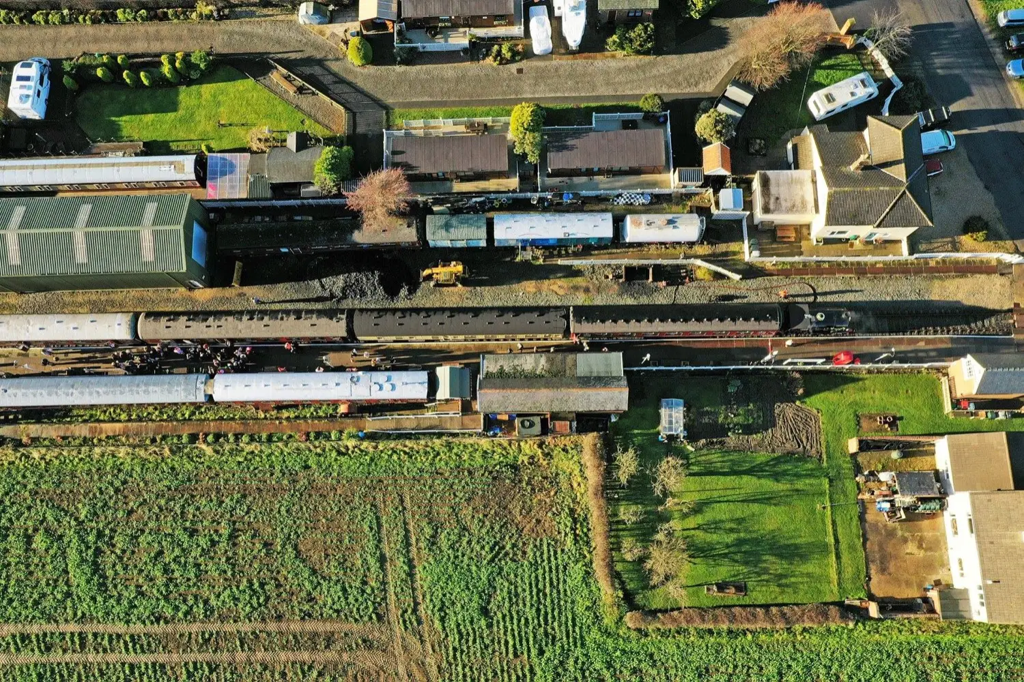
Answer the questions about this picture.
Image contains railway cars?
Yes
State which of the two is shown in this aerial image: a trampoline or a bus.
bus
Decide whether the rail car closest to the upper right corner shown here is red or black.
black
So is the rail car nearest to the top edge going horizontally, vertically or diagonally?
horizontally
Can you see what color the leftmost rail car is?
white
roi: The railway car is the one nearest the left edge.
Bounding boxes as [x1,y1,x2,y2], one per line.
[0,312,146,348]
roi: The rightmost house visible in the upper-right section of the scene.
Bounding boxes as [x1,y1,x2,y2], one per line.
[751,114,934,241]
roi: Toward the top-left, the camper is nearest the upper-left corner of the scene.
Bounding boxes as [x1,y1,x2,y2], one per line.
[9,59,53,118]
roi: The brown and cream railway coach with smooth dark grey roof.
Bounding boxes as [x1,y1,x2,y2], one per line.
[350,306,570,343]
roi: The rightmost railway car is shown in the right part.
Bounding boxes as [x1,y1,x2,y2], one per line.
[780,302,865,334]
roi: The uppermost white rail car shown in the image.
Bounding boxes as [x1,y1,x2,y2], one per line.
[618,214,709,245]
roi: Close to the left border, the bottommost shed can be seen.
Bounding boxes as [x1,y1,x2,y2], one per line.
[0,193,213,293]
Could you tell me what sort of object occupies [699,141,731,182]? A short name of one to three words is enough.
shed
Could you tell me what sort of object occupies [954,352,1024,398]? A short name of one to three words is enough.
building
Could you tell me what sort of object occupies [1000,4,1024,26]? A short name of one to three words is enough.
car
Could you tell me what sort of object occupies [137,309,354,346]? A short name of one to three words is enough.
rail car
